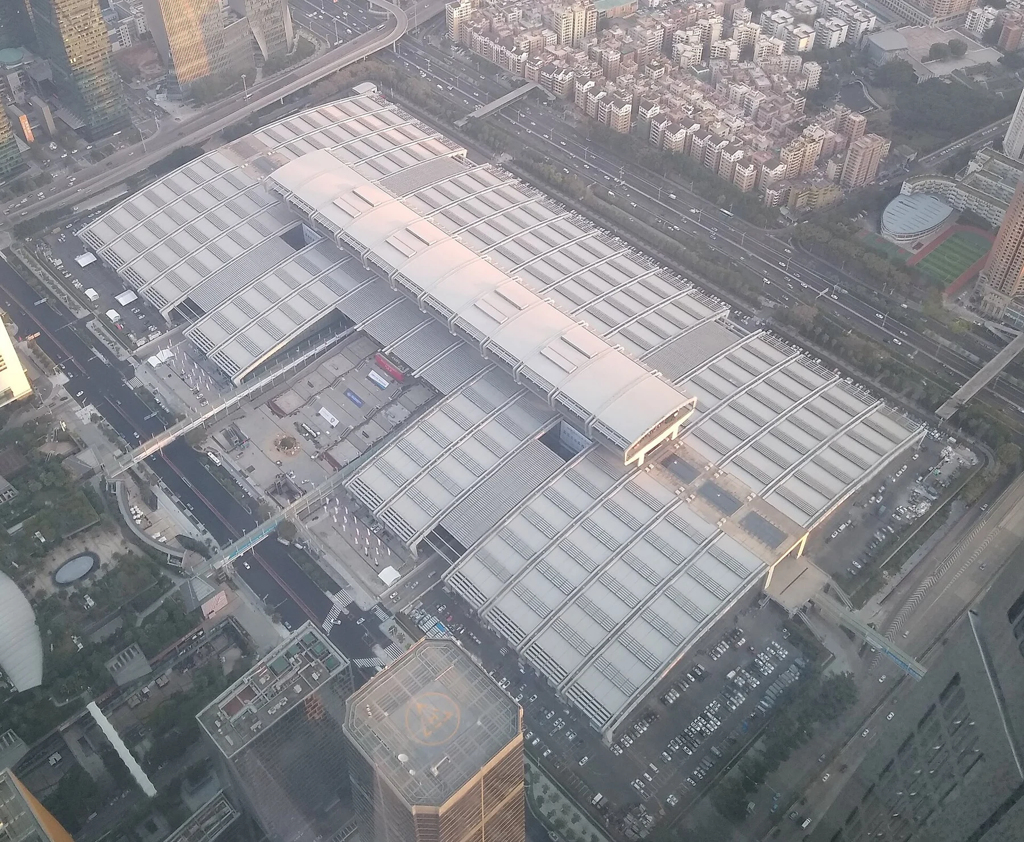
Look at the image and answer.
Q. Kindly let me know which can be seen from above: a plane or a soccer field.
soccer field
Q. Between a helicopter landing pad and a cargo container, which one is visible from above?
helicopter landing pad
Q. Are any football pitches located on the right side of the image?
Yes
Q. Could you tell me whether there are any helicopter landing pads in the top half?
No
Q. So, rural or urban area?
urban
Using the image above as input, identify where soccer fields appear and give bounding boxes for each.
[915,228,999,285]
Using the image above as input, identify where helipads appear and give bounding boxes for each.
[390,680,471,759]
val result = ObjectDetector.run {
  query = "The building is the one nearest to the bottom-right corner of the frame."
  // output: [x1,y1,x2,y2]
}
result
[829,570,1024,842]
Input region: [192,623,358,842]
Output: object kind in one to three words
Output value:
building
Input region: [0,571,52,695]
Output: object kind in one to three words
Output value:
building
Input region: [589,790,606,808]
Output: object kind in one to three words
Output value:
vehicle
